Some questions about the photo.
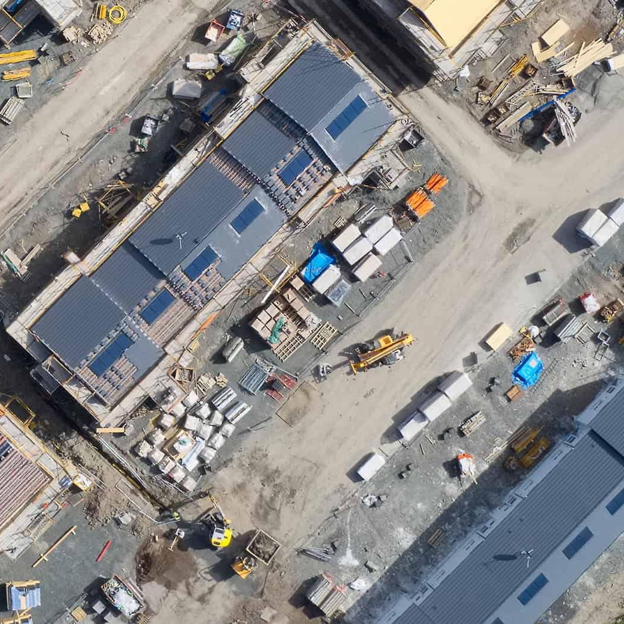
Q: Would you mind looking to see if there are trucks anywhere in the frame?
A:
Yes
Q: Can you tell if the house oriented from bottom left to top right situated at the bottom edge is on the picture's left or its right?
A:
right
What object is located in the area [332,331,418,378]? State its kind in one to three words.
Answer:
work vehicle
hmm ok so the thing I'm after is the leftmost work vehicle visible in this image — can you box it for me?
[199,488,239,554]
